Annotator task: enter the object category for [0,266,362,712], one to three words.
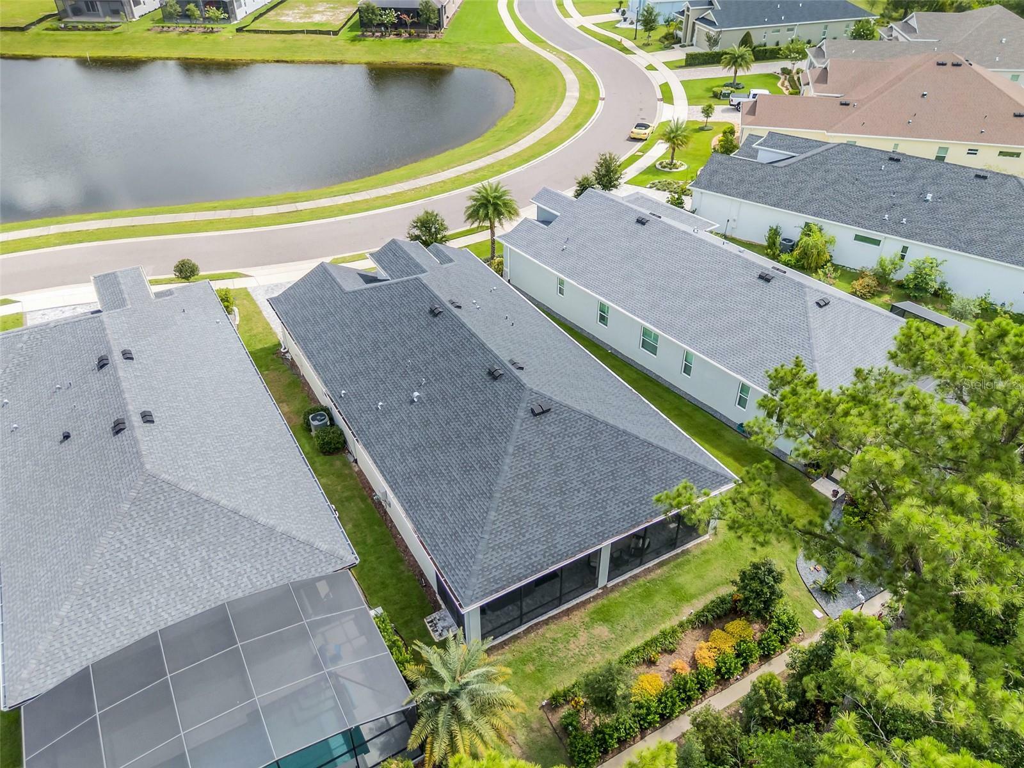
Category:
house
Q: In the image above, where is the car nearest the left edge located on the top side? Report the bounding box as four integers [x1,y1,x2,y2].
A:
[628,121,655,138]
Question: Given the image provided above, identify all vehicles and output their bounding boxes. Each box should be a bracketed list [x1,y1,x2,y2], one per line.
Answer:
[724,90,764,113]
[628,121,655,138]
